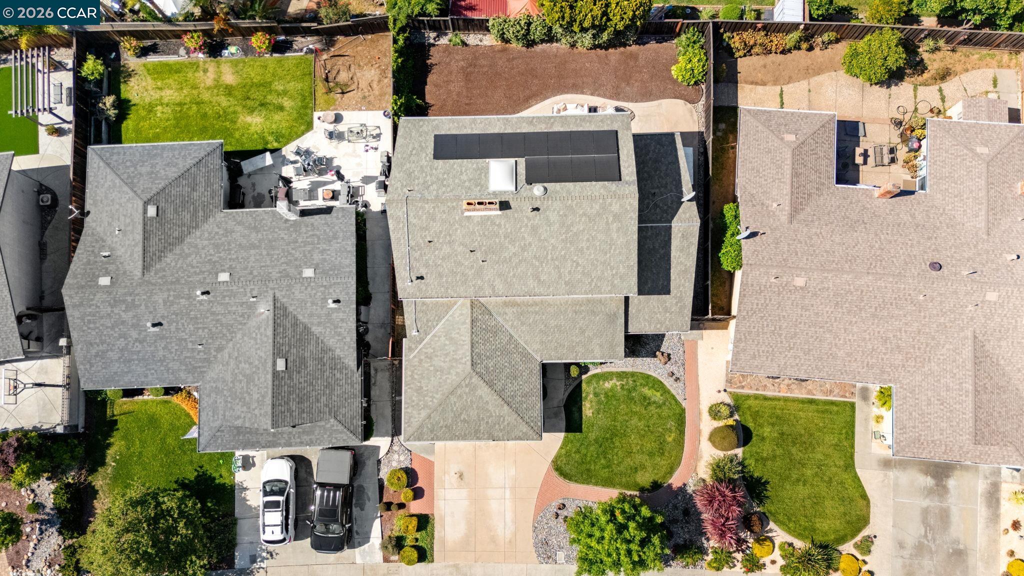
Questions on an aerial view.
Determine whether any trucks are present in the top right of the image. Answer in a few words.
No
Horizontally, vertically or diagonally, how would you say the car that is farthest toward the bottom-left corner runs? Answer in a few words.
vertically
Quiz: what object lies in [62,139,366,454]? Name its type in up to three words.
house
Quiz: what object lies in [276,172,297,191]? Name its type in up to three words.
umbrella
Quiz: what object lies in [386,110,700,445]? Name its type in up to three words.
house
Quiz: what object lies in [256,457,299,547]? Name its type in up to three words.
car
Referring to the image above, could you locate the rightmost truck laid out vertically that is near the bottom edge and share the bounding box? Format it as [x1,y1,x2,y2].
[308,447,357,555]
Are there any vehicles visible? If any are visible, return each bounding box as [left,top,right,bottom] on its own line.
[256,457,299,547]
[308,447,357,555]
